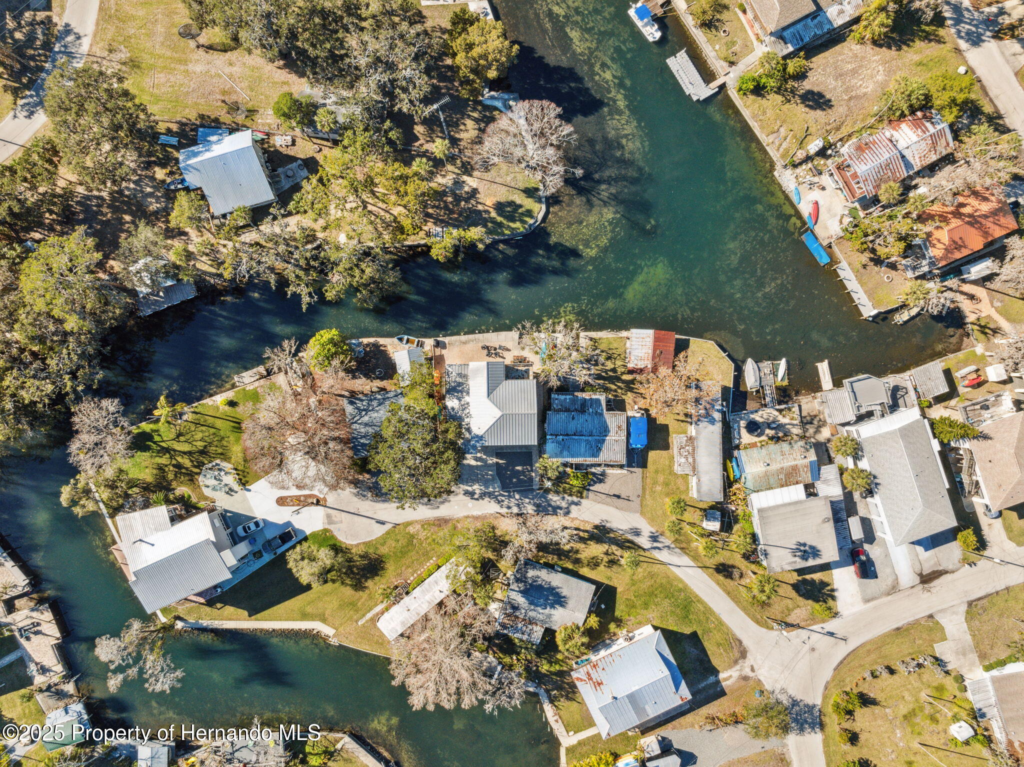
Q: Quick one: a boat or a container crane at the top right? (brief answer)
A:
boat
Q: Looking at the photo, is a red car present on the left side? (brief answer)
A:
No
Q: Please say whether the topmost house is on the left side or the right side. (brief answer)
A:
right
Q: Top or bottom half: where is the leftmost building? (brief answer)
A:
bottom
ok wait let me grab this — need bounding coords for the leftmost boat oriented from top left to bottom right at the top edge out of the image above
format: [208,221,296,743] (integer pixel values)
[626,0,660,43]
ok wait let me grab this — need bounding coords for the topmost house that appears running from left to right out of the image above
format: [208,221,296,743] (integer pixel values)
[739,0,872,57]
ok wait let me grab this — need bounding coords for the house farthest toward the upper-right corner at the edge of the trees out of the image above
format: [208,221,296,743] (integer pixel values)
[876,109,954,175]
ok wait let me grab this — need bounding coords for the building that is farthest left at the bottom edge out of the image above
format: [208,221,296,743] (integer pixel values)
[42,712,94,752]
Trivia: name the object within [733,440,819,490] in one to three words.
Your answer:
house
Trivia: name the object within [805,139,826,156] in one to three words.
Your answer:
boat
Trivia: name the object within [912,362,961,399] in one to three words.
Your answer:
building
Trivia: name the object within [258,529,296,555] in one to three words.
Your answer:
truck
